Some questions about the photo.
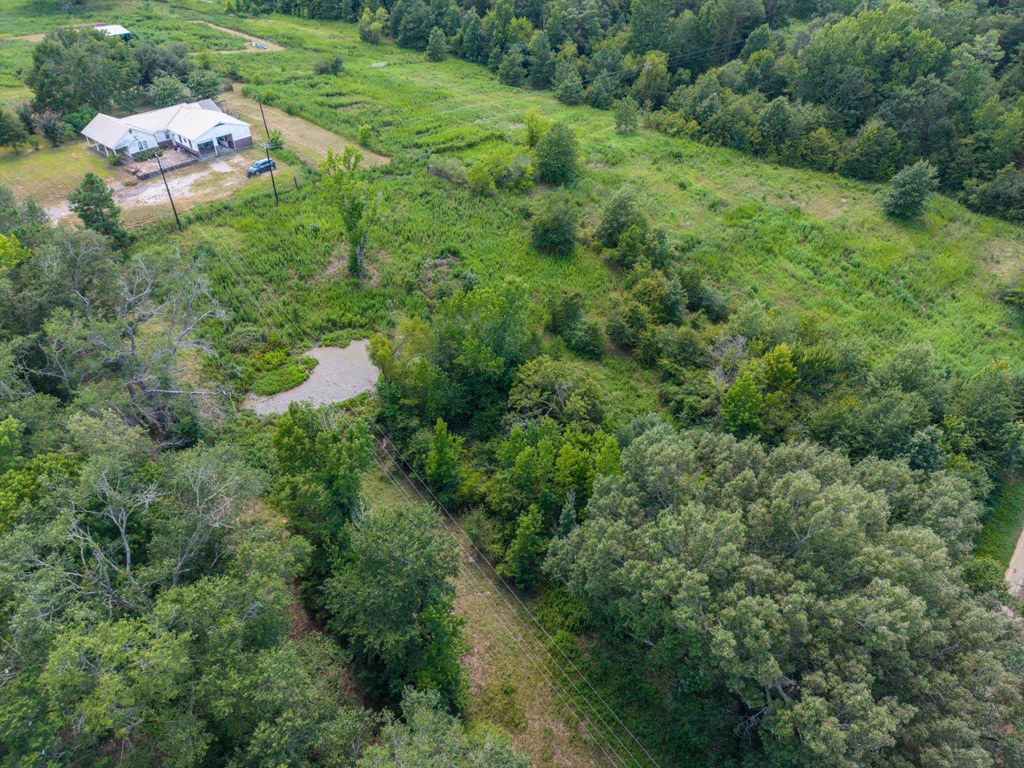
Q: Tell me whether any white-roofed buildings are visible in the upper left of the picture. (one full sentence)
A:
Yes, a white-roofed building appears in the upper left of the picture.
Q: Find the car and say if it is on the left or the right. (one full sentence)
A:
The car appears in the left half of the scene.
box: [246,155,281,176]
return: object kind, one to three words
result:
car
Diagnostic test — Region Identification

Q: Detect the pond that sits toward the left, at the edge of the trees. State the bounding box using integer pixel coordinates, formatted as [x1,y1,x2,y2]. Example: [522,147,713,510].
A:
[247,342,377,415]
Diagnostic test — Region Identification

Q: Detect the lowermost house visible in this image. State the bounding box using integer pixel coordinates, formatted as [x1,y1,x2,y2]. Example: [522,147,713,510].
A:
[80,96,254,166]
